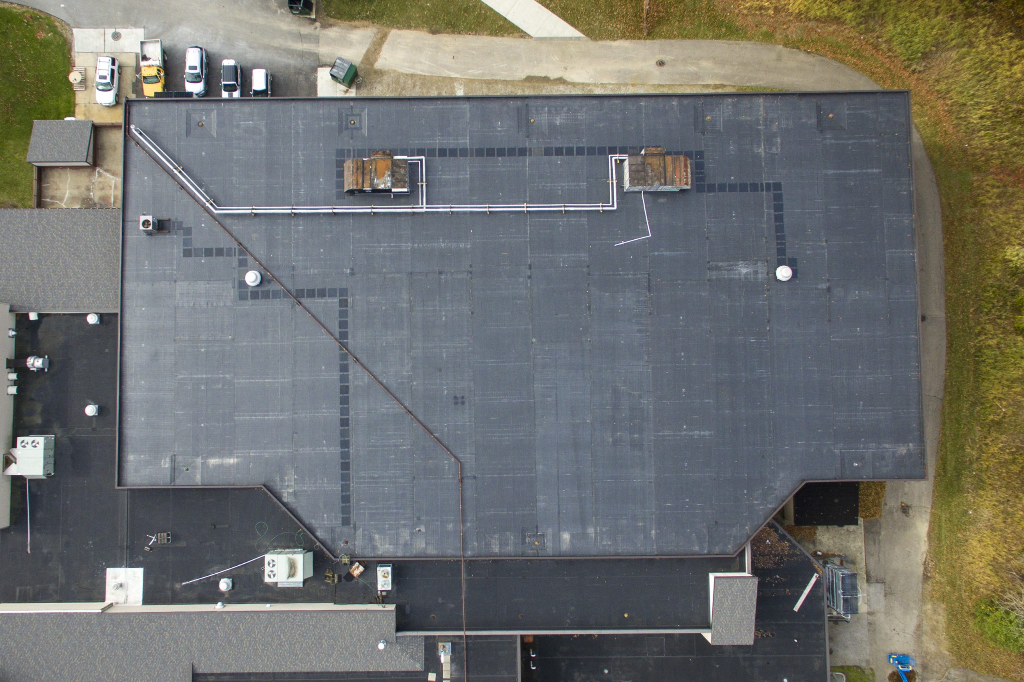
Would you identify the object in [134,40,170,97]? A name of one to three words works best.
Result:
truck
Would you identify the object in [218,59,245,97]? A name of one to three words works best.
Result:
car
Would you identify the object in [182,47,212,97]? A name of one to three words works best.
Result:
car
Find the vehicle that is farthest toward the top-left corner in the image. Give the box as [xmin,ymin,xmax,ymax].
[90,53,122,107]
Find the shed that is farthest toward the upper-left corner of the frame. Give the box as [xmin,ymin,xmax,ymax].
[27,119,94,165]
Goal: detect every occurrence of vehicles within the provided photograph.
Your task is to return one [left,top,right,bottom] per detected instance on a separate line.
[134,40,170,97]
[182,47,212,97]
[218,59,245,97]
[251,68,275,97]
[90,53,122,107]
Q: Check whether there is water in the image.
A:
No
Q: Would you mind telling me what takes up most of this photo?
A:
buildings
